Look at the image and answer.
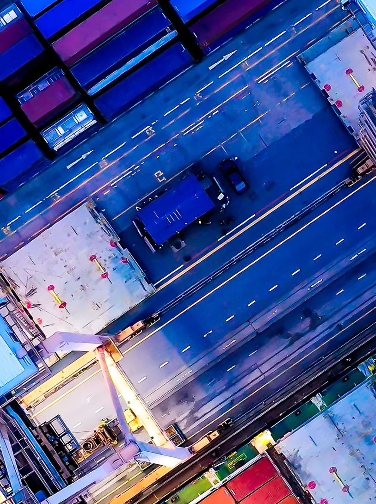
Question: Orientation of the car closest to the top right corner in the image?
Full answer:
The car closest to the top right corner runs on a diagonal in the image.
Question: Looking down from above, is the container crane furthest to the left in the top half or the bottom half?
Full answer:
The container crane furthest to the left sits in the bottom half of the picture.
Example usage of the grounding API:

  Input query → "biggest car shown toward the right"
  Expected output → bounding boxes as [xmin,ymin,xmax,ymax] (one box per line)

[218,157,252,194]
